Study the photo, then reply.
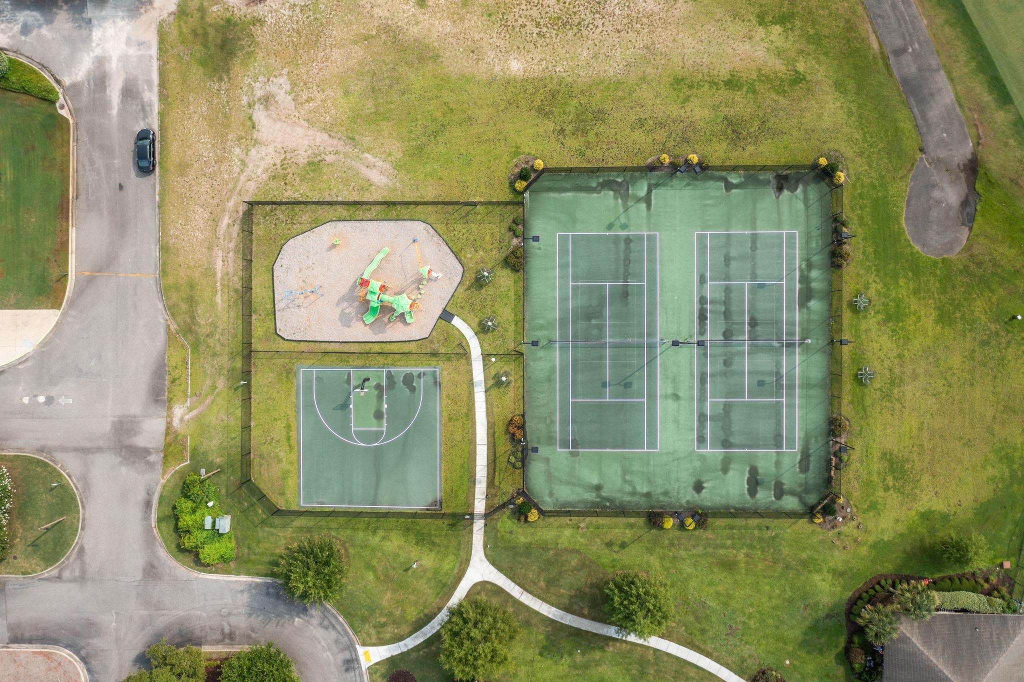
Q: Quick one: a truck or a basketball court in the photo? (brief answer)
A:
basketball court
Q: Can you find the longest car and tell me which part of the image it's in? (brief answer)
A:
top left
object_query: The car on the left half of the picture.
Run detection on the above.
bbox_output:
[131,128,154,171]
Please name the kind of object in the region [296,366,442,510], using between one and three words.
basketball court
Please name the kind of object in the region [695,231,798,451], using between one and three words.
tennis court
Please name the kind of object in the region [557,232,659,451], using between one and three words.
tennis court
